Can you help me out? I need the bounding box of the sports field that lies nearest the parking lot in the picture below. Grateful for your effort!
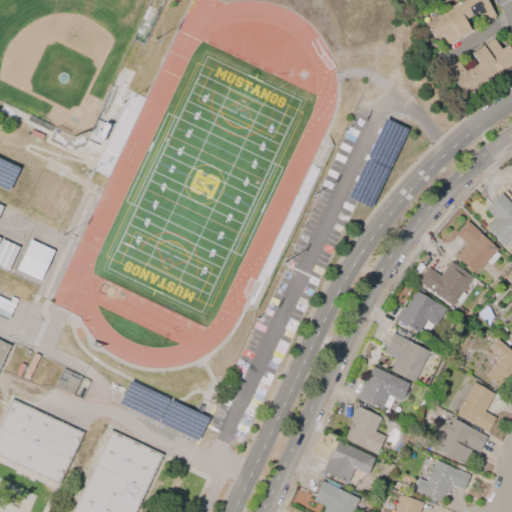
[96,42,316,326]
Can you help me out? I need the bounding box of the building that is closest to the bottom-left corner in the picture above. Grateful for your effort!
[0,399,86,484]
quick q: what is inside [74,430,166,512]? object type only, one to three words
building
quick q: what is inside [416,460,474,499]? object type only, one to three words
house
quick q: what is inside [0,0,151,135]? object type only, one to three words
baseball field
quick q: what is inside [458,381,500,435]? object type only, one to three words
house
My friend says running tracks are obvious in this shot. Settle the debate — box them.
[54,0,342,372]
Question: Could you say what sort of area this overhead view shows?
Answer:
sports ground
